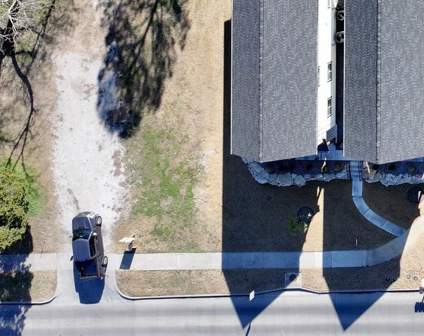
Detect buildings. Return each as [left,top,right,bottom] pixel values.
[230,0,337,162]
[343,0,424,165]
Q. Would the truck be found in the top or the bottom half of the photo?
bottom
